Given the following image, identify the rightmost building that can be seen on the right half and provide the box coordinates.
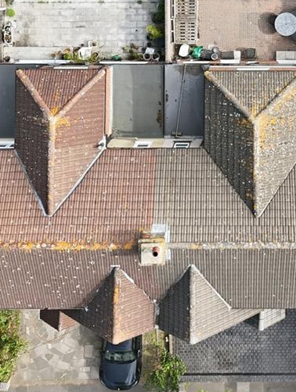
[153,56,296,346]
